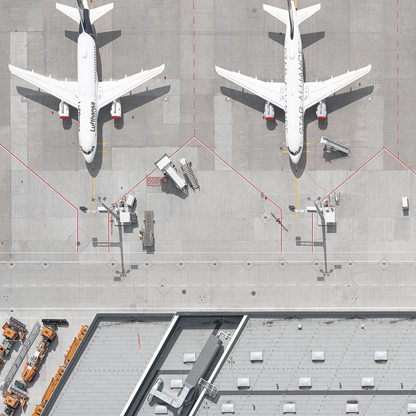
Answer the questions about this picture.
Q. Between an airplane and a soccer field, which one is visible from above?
airplane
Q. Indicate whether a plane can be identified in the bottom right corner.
No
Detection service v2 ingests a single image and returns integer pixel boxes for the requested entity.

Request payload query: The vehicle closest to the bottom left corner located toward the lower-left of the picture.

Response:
[0,386,28,416]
